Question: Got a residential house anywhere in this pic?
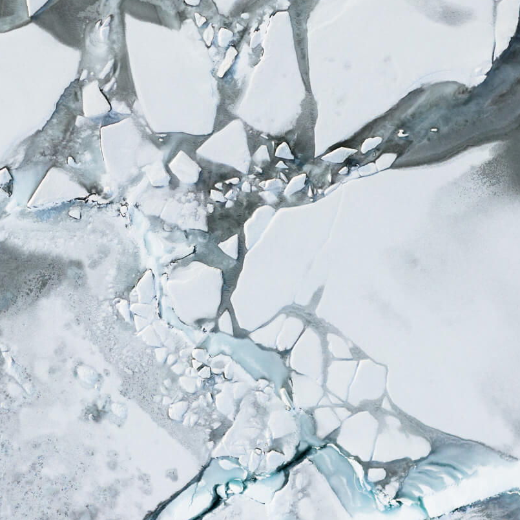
No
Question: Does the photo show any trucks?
No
